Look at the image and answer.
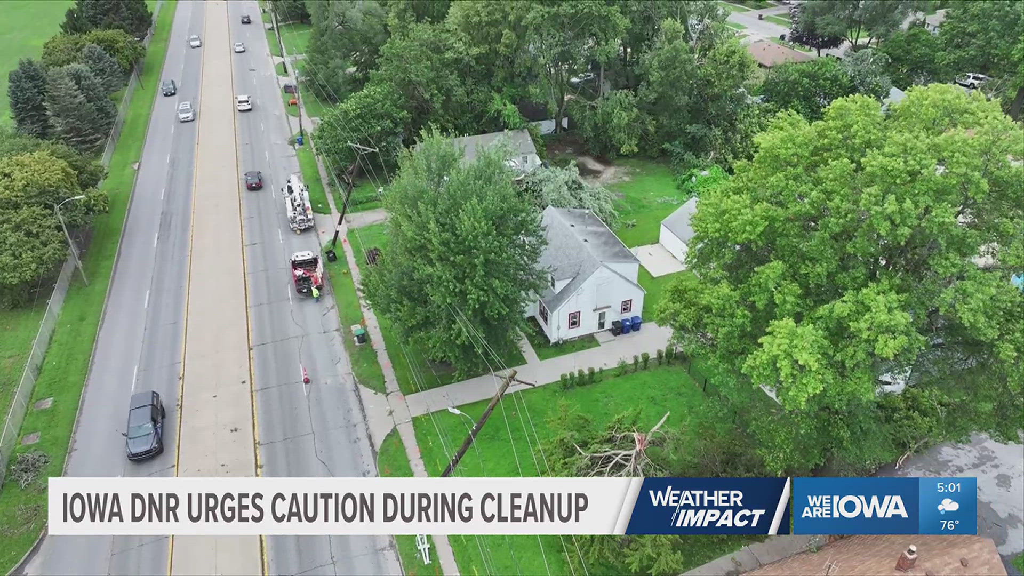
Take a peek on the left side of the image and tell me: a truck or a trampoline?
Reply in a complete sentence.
There is a truck on the left side of the image.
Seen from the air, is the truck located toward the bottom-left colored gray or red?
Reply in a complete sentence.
The truck located toward the bottom-left is gray.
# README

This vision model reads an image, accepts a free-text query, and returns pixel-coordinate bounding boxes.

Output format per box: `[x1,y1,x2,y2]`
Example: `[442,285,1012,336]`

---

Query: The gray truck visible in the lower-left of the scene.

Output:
[122,386,167,459]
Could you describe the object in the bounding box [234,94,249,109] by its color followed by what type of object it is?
white car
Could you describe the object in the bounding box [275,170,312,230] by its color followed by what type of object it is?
white truck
